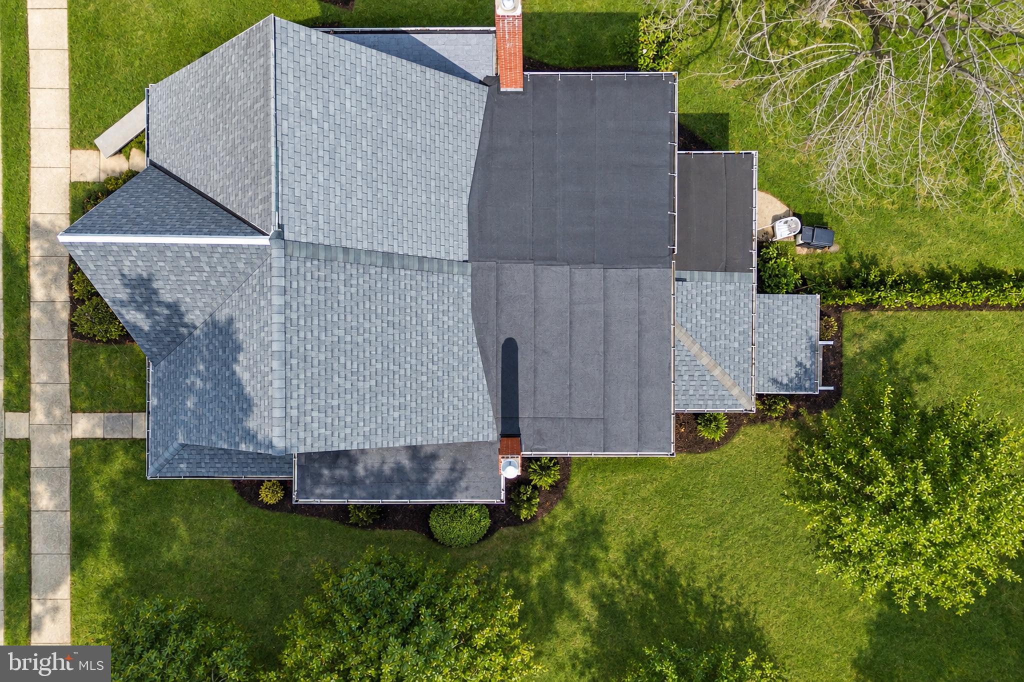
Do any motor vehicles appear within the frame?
No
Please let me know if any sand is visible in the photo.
No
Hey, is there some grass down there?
Yes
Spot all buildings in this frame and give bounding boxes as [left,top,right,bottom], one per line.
[56,0,818,507]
